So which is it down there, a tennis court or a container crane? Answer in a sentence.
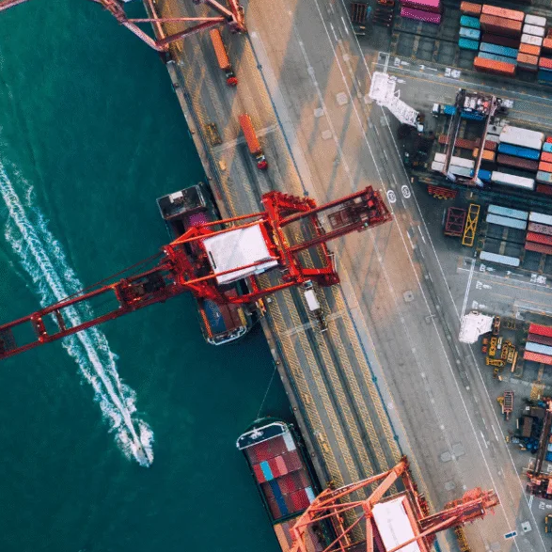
This aerial view contains a container crane.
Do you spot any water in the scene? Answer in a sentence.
Yes, there's water in this view.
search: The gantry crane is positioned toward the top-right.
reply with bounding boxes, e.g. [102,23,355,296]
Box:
[440,85,504,192]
